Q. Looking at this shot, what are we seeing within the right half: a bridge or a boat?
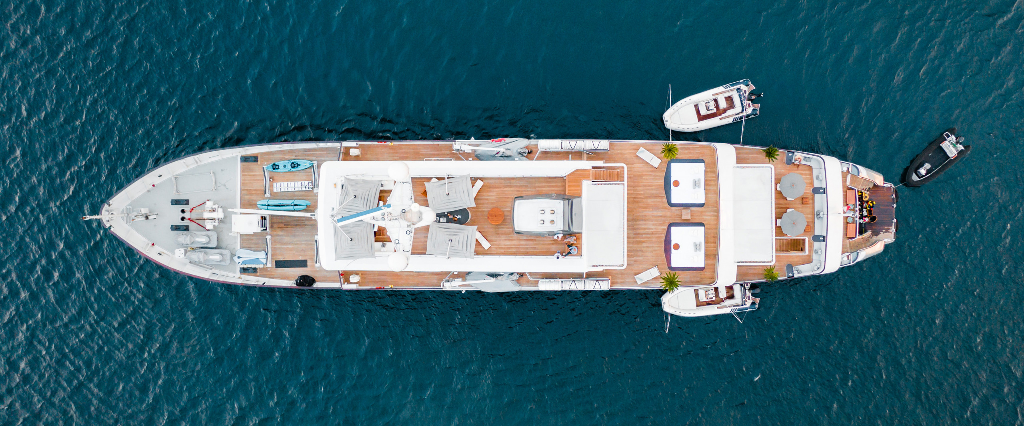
boat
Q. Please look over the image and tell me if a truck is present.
No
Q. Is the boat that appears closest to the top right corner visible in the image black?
Yes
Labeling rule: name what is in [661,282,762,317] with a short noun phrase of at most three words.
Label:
boat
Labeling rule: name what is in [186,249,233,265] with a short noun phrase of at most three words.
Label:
boat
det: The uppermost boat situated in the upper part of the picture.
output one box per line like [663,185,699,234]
[662,78,764,132]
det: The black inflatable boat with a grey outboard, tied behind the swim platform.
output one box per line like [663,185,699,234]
[904,129,970,188]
